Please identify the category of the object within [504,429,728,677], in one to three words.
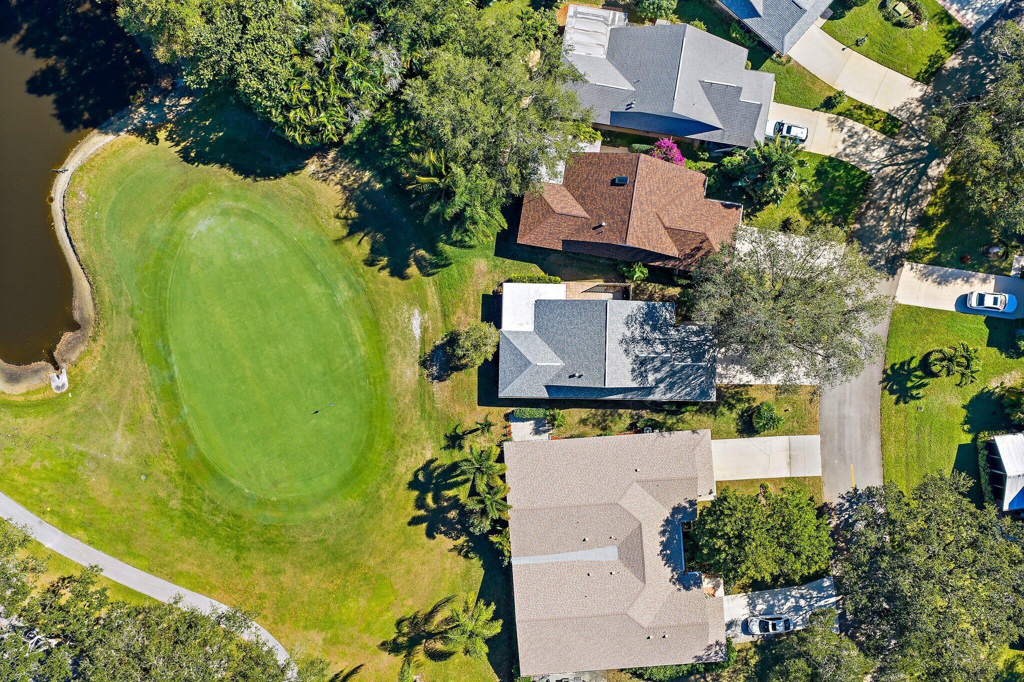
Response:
house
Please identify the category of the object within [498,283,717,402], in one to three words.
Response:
house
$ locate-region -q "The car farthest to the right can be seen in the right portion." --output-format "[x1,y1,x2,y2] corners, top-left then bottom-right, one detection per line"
[962,293,1015,316]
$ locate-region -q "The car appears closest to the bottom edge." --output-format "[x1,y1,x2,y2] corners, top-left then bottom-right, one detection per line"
[744,611,792,635]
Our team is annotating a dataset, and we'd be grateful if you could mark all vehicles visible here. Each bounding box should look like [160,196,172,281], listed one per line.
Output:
[962,293,1015,316]
[744,611,792,635]
[766,121,808,148]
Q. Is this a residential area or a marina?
residential area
